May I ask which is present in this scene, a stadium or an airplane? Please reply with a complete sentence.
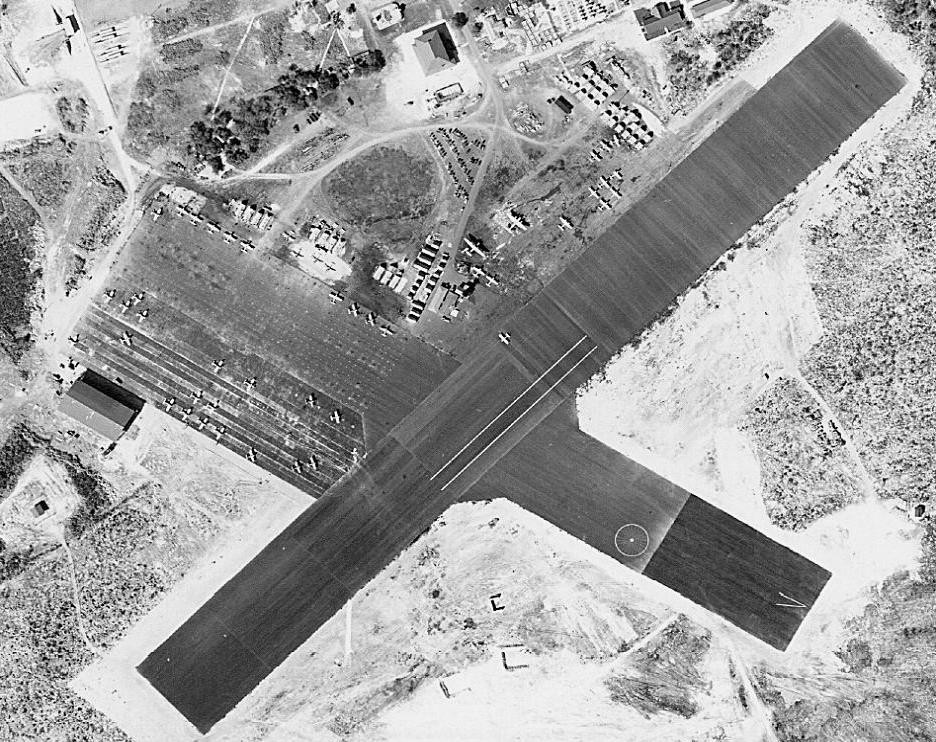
Looking from above, you can make out an airplane.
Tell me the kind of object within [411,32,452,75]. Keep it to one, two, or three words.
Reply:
building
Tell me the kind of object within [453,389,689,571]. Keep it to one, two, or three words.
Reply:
runway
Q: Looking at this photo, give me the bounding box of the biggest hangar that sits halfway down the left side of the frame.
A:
[60,377,137,441]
